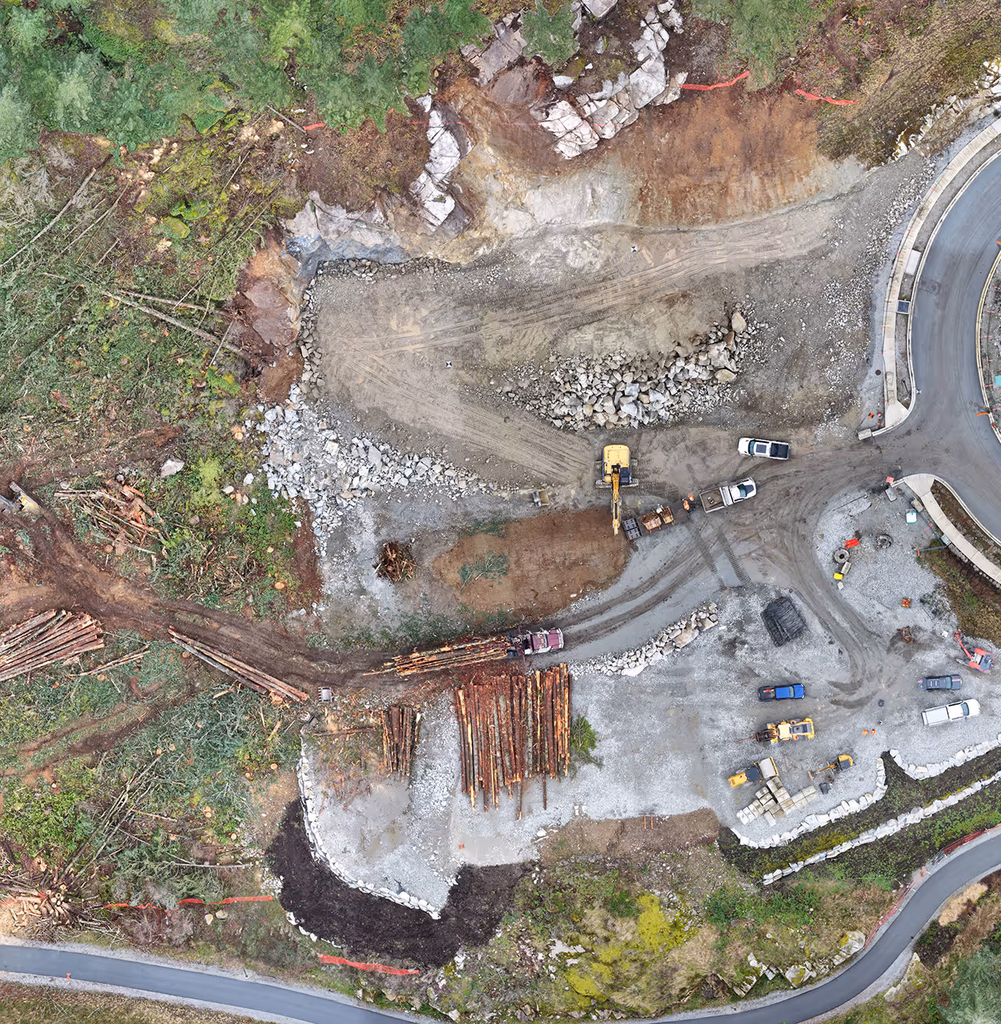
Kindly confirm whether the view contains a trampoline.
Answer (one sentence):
No, there appears to be no trampoline in this shot.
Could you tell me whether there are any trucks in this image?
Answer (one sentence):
Yes, the picture does show a truck.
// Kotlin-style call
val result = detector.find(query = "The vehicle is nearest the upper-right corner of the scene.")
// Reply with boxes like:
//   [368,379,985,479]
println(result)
[738,436,791,459]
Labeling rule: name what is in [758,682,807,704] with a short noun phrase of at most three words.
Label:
truck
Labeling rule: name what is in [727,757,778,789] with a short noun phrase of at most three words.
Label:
work vehicle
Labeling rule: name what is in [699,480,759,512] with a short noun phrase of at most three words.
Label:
truck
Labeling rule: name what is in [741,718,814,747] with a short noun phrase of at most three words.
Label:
work vehicle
